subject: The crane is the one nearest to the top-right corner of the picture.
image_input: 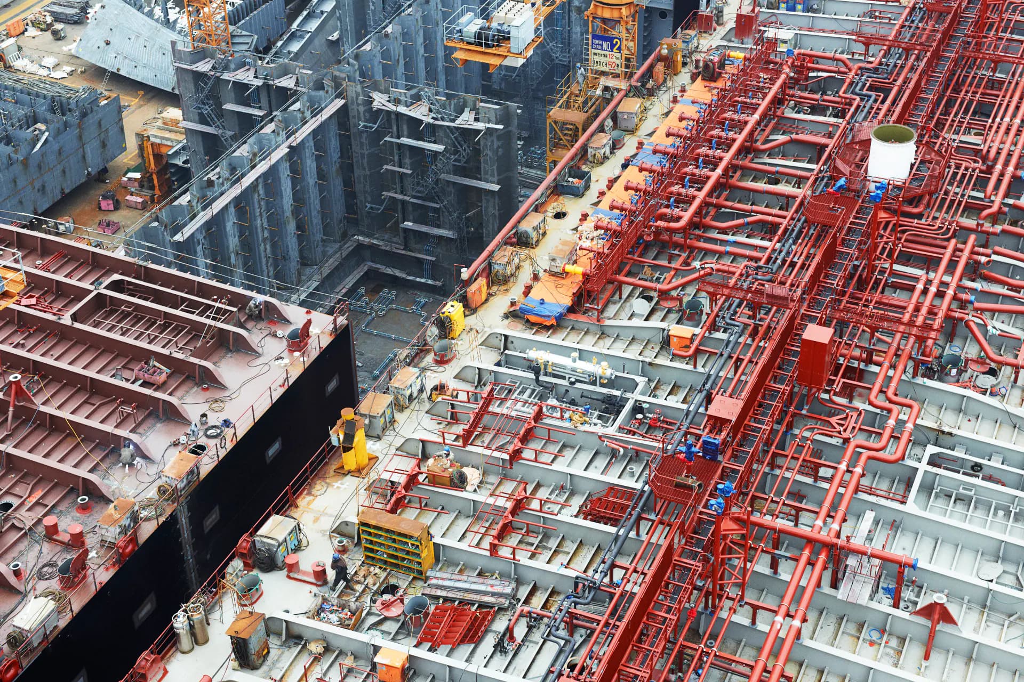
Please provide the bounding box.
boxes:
[577,0,642,133]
